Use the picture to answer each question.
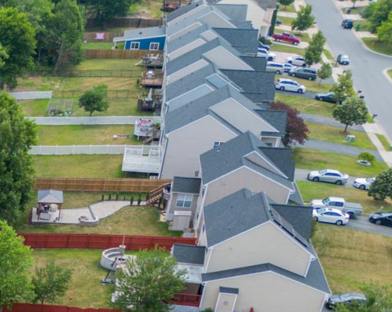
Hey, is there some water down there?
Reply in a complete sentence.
No, no water is visible.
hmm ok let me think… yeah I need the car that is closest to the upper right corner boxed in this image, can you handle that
[341,16,356,29]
